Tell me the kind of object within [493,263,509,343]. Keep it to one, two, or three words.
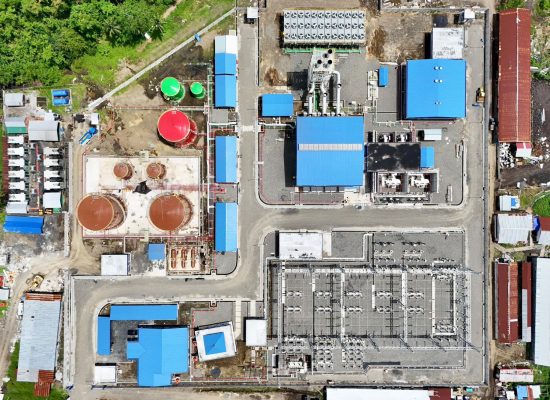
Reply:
house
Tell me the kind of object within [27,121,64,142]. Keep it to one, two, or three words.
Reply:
shed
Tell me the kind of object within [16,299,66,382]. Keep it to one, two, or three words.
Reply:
barn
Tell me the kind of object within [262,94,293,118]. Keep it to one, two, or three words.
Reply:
building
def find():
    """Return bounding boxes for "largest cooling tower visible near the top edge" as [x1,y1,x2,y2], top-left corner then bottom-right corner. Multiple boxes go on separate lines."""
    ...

[280,9,365,53]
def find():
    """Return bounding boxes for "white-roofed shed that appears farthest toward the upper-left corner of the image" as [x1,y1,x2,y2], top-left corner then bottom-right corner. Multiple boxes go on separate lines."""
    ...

[4,93,28,108]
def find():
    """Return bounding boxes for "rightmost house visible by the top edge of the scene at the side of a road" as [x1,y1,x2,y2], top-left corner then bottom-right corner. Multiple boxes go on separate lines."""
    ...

[493,9,531,142]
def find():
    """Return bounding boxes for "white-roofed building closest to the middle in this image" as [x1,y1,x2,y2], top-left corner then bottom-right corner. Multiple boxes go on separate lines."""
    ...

[279,232,323,259]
